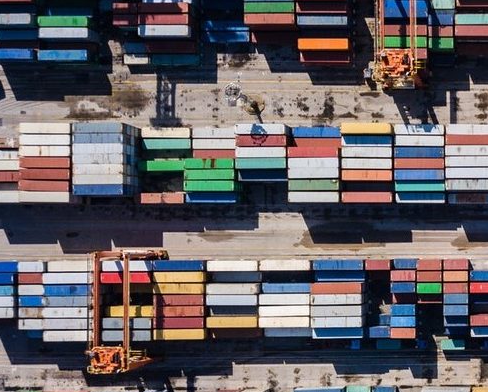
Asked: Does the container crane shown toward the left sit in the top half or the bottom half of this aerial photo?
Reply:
bottom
